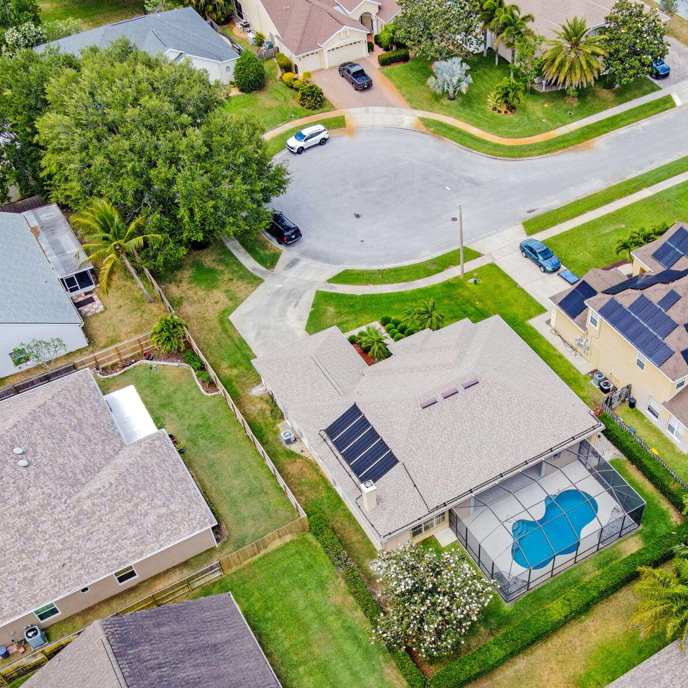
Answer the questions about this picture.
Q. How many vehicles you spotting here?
five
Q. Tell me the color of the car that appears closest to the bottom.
blue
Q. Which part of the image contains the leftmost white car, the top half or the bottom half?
top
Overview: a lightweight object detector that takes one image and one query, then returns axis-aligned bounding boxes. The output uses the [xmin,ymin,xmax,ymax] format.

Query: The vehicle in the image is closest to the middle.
[259,210,305,243]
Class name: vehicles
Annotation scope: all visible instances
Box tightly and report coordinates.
[259,210,305,243]
[338,59,371,88]
[642,54,677,79]
[285,124,330,152]
[518,234,561,273]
